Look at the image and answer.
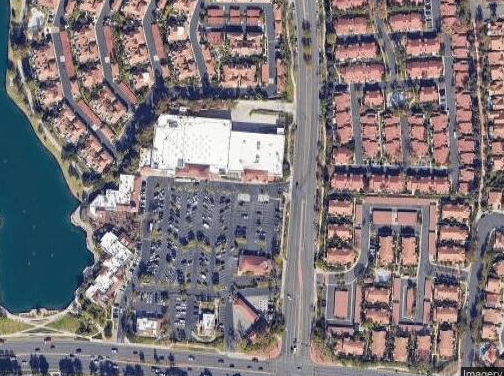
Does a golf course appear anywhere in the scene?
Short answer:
No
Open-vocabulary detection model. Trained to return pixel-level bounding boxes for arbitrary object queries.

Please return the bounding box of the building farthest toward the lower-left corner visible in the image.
[86,274,111,297]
